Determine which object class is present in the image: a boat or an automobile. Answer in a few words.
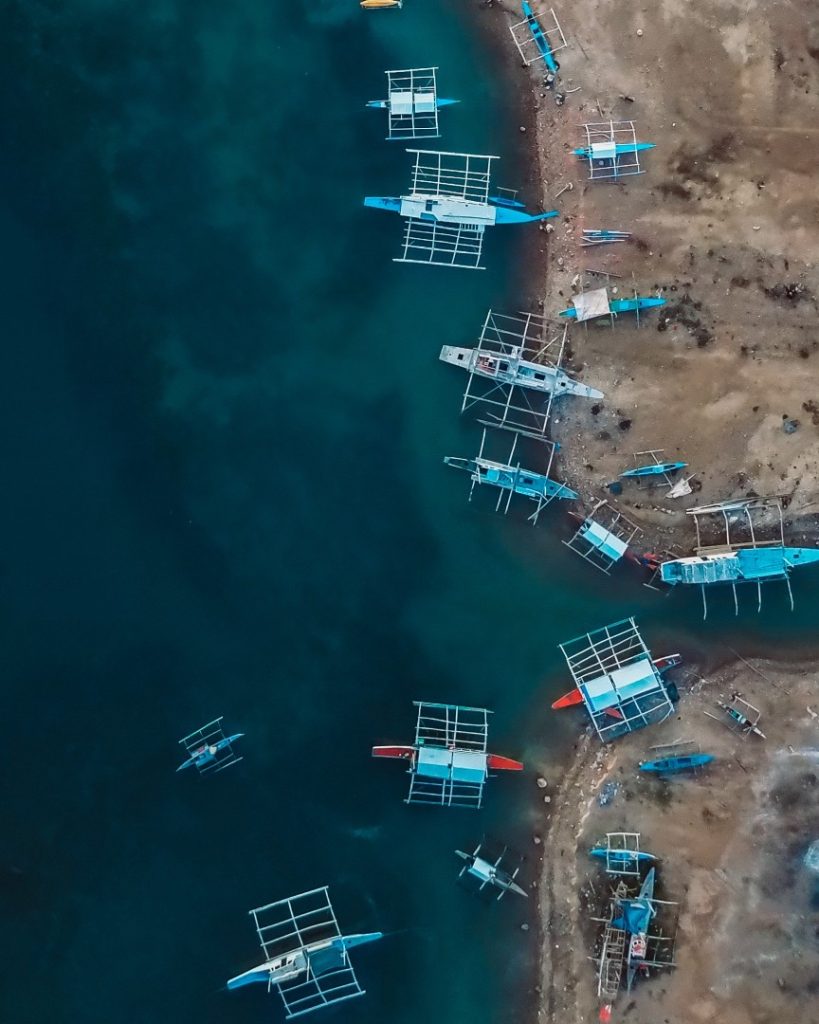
boat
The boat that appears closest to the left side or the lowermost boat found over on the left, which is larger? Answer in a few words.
the lowermost boat found over on the left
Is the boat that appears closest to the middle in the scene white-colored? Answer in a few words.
No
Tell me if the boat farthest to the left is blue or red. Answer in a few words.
blue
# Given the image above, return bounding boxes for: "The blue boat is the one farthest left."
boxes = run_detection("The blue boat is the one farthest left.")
[175,716,245,774]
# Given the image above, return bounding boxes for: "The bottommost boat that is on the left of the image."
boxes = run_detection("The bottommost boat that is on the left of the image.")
[226,886,419,1019]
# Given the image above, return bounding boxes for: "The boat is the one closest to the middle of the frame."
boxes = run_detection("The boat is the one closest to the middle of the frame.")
[444,428,579,525]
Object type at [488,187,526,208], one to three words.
boat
